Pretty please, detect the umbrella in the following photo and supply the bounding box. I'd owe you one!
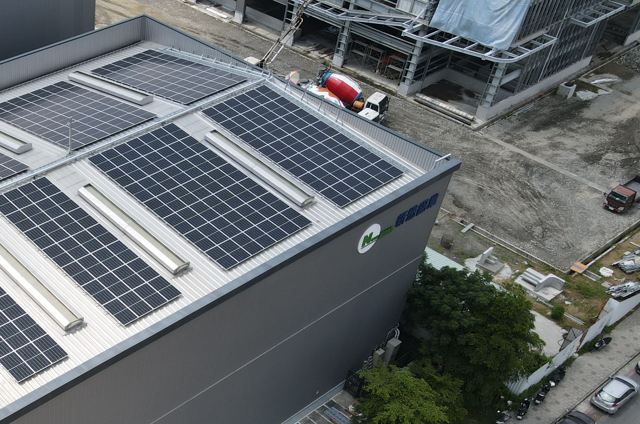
[285,72,302,86]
